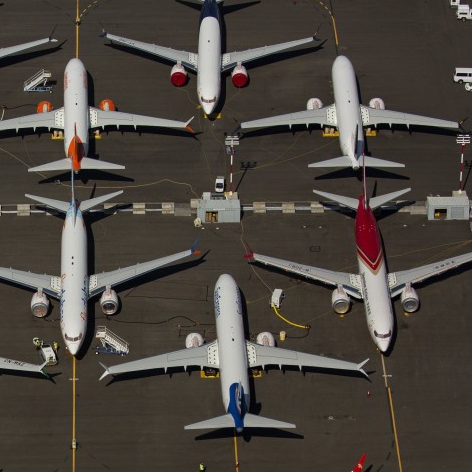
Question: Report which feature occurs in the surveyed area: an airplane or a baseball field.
airplane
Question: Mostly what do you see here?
paved ground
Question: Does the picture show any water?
No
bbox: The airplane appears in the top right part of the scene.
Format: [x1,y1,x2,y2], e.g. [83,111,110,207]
[232,56,469,170]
